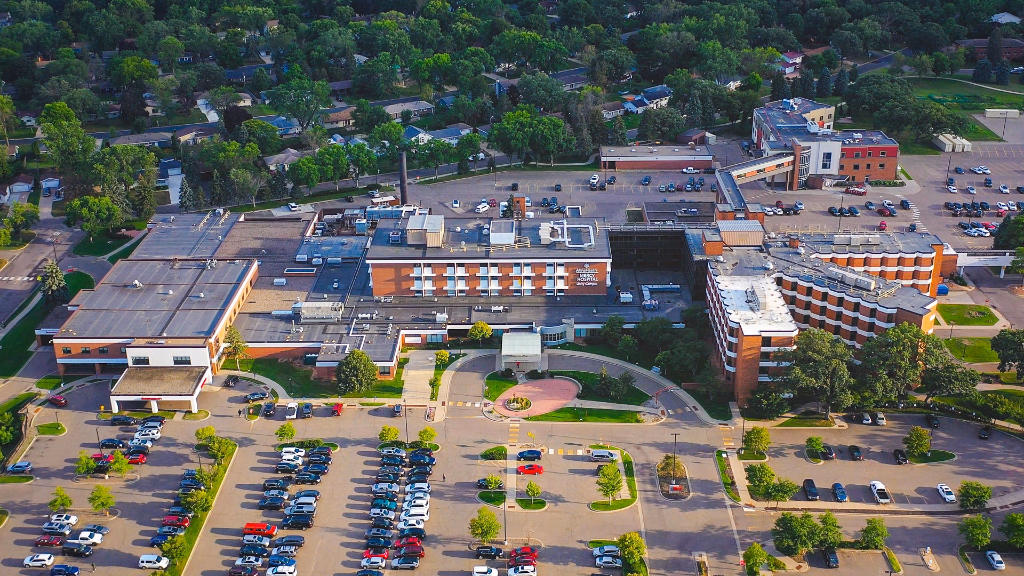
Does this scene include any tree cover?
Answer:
Yes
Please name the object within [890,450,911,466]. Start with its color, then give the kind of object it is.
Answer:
black car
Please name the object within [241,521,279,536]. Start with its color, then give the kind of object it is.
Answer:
red vehicle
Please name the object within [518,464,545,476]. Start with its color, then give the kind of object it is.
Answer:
red vehicle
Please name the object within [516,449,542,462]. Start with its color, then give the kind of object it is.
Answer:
blue vehicle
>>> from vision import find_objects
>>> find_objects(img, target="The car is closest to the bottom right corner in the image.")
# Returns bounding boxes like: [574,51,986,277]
[982,551,1008,572]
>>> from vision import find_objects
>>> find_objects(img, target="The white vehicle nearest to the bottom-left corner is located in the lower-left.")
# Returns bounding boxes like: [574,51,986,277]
[21,553,54,568]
